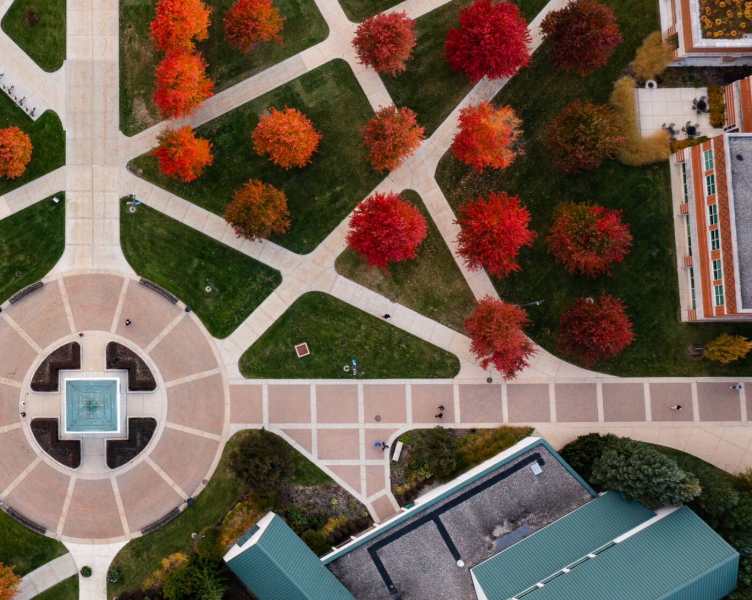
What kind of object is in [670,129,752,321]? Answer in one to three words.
building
